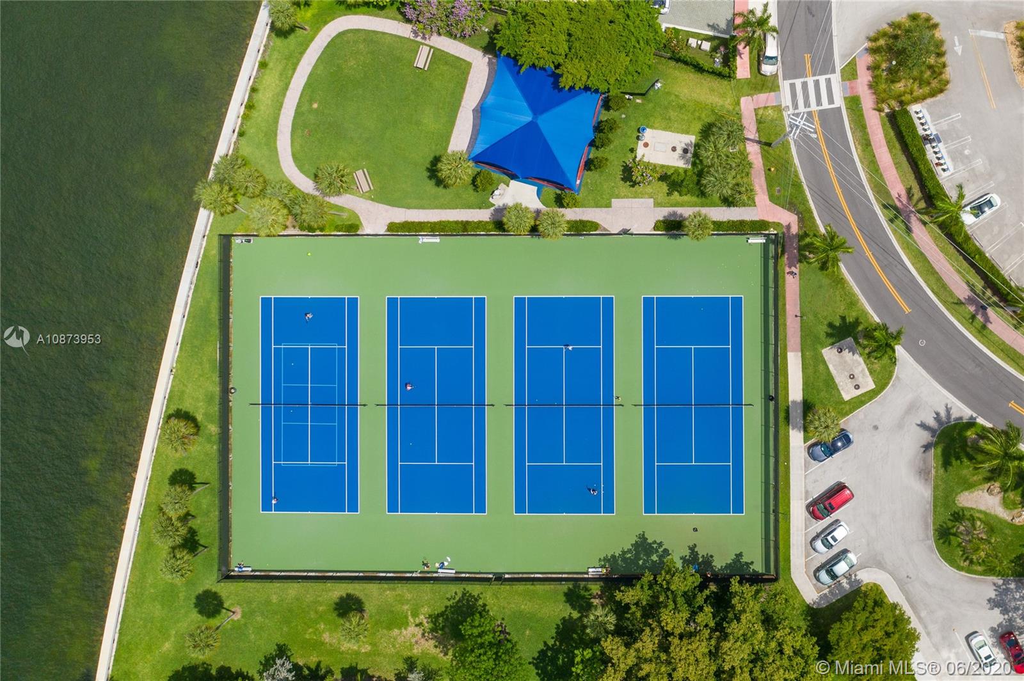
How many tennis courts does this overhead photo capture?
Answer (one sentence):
The number of tennis courts here is 4.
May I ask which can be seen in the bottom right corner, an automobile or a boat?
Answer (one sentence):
Visible in the bottom right corner is an automobile.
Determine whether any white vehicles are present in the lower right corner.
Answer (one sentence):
Yes, you'll find a white vehicle in the lower right corner.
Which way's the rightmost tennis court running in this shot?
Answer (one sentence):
The rightmost tennis court is laid out from top to bottom.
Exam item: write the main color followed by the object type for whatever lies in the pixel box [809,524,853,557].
white car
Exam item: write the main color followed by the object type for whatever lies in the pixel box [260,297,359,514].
blue tennis court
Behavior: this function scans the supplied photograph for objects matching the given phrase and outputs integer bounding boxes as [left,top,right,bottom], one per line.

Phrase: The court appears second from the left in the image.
[386,296,487,514]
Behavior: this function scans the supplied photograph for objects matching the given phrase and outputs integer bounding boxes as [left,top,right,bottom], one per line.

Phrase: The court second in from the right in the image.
[514,296,615,515]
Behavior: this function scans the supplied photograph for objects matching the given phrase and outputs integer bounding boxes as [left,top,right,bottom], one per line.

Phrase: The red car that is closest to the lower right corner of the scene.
[997,633,1024,680]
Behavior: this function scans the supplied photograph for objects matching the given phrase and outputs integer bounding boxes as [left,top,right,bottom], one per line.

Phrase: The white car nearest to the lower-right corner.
[967,634,1000,680]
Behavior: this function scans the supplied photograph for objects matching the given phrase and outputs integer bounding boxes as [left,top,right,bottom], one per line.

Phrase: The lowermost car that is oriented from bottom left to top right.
[813,553,860,588]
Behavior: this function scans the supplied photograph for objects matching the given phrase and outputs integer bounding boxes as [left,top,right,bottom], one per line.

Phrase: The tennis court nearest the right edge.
[642,296,744,515]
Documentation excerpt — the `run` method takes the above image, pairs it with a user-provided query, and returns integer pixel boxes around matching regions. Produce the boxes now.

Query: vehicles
[997,633,1024,680]
[758,27,781,77]
[962,191,1006,223]
[807,486,857,522]
[809,524,853,557]
[967,634,1000,680]
[807,432,855,464]
[813,553,860,588]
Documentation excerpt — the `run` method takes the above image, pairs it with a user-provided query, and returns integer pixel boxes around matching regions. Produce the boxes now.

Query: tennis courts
[386,296,487,514]
[514,296,615,515]
[642,296,744,515]
[260,297,359,514]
